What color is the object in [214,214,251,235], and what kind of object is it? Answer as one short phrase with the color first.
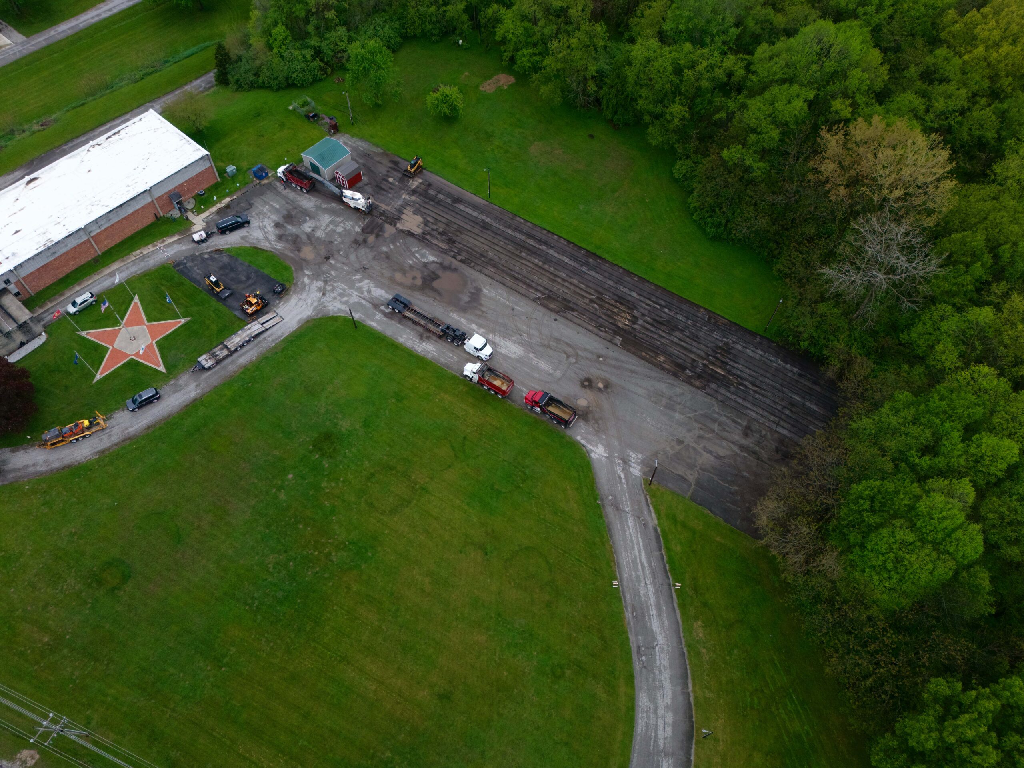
black car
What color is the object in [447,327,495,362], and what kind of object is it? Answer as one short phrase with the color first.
white truck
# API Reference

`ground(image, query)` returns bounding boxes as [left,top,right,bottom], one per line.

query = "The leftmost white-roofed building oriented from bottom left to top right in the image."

[0,106,221,338]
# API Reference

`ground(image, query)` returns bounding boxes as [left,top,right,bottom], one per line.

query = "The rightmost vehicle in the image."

[522,390,579,429]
